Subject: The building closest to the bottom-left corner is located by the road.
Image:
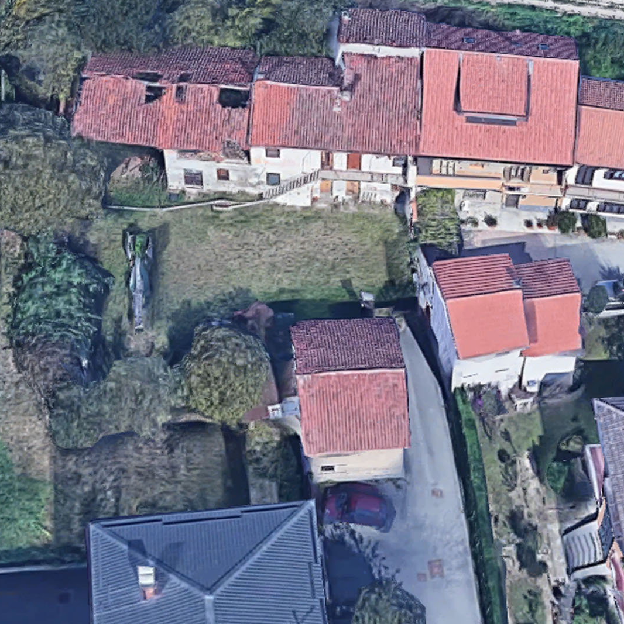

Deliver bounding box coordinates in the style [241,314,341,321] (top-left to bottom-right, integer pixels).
[87,499,335,624]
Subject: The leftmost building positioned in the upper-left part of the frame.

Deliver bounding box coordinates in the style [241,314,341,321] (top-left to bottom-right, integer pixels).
[74,46,259,194]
